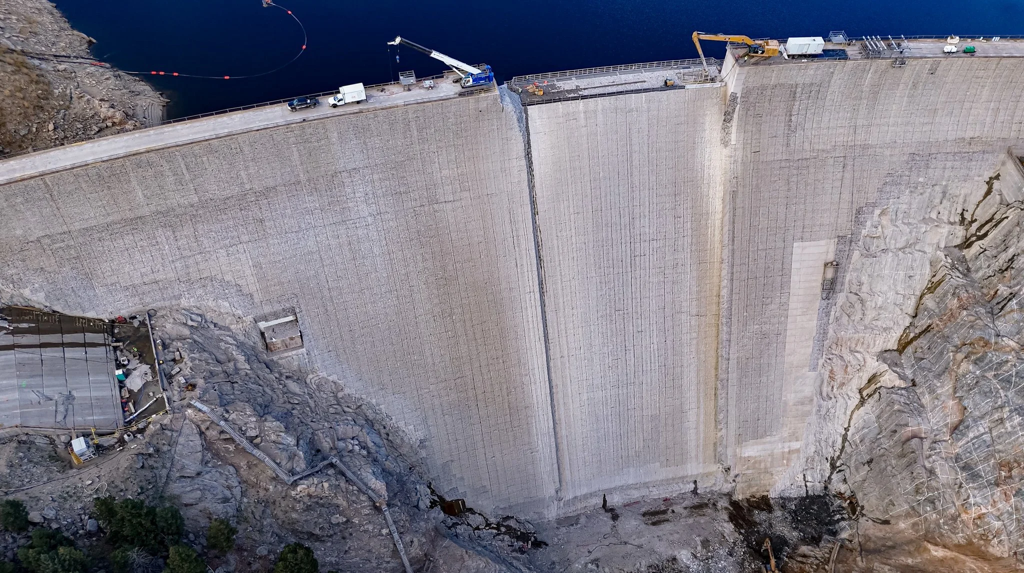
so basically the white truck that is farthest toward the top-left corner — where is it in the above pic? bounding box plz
[328,81,373,106]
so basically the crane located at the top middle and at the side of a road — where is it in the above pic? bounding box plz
[388,38,495,90]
